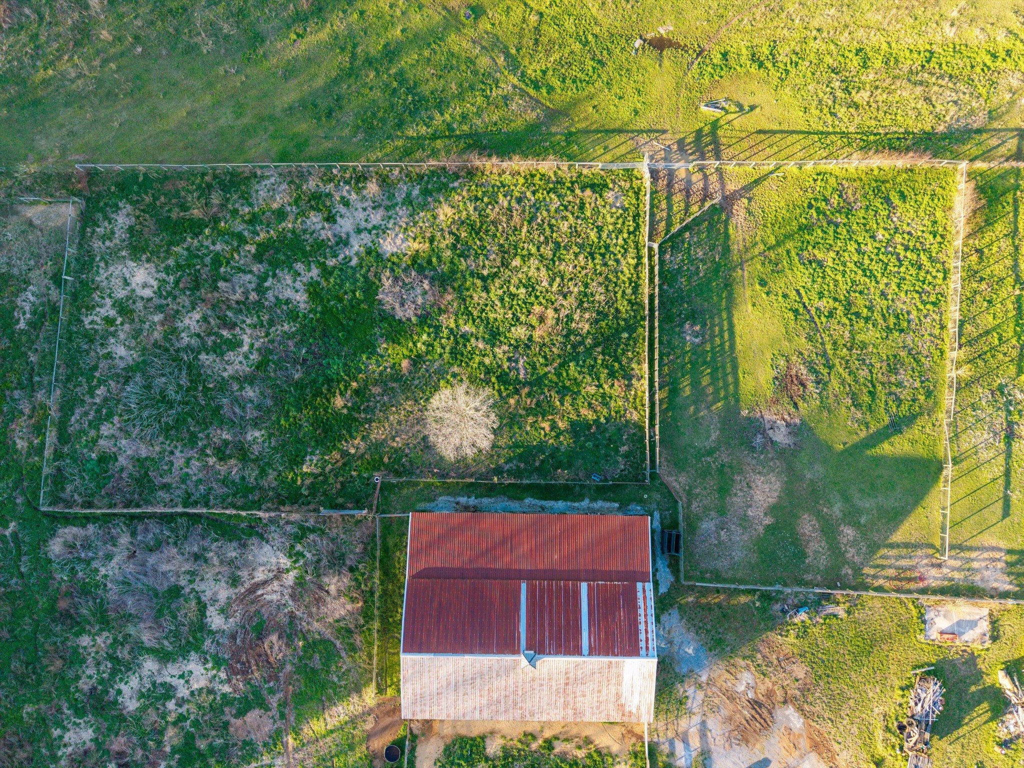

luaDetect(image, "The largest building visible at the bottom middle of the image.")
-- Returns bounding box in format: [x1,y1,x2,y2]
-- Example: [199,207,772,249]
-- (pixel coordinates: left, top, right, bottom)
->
[398,512,658,721]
